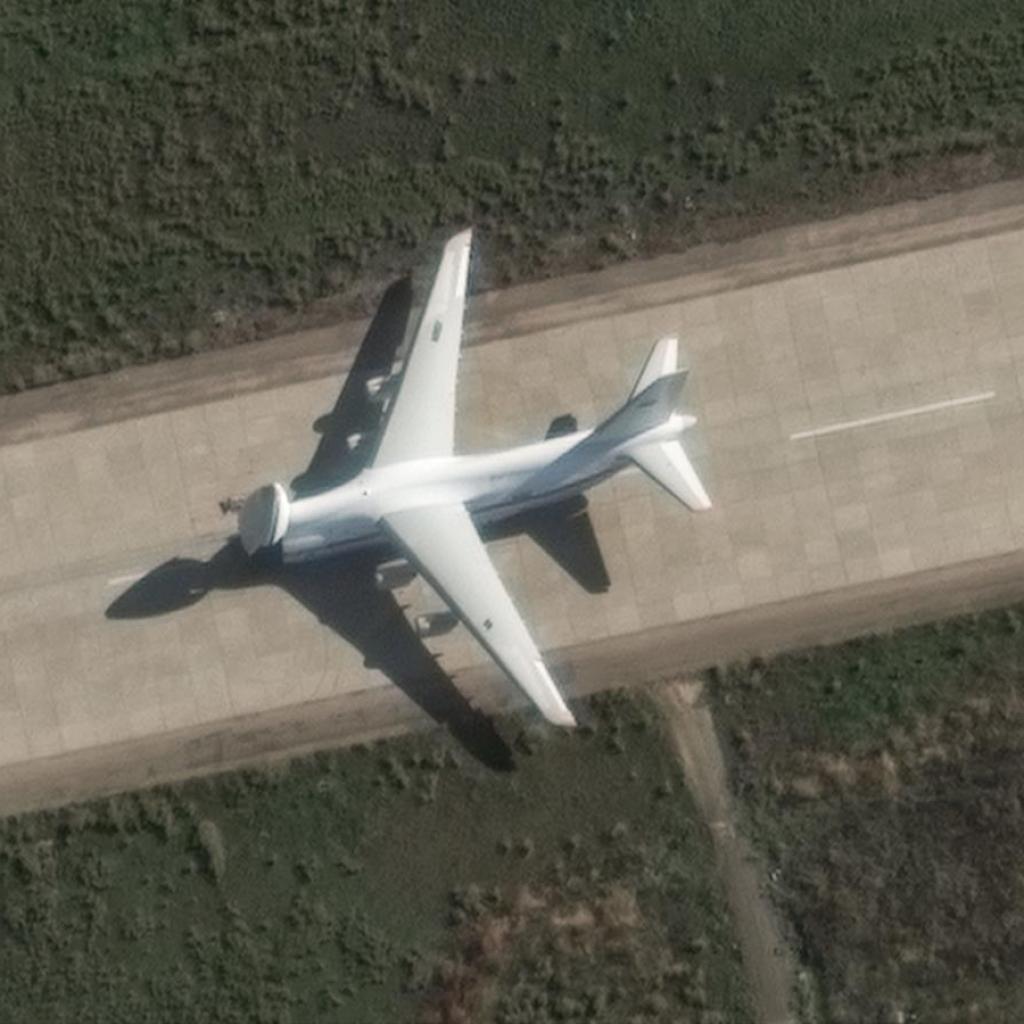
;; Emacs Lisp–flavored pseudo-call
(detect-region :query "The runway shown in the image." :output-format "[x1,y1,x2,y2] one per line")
[0,231,1024,767]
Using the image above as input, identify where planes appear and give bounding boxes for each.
[238,230,712,727]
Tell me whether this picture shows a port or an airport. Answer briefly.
airport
